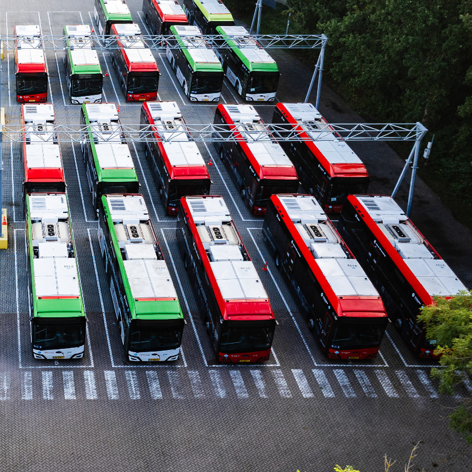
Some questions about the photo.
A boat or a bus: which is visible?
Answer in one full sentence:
Of the two, only a bus appears.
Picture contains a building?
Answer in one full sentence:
No, there appears to be no building in this shot.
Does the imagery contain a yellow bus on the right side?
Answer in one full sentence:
No, no yellow bus is visible on the right side.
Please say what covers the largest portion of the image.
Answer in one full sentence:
What you mostly see from above here is paved ground.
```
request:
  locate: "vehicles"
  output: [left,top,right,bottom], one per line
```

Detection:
[110,25,161,100]
[213,104,301,214]
[60,26,105,101]
[173,196,280,359]
[14,26,50,101]
[262,196,394,358]
[96,0,136,49]
[214,25,282,100]
[145,0,191,49]
[140,104,215,214]
[80,104,142,214]
[26,196,89,358]
[164,25,226,100]
[184,0,237,49]
[18,104,67,214]
[101,198,188,359]
[340,196,472,358]
[273,104,375,214]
